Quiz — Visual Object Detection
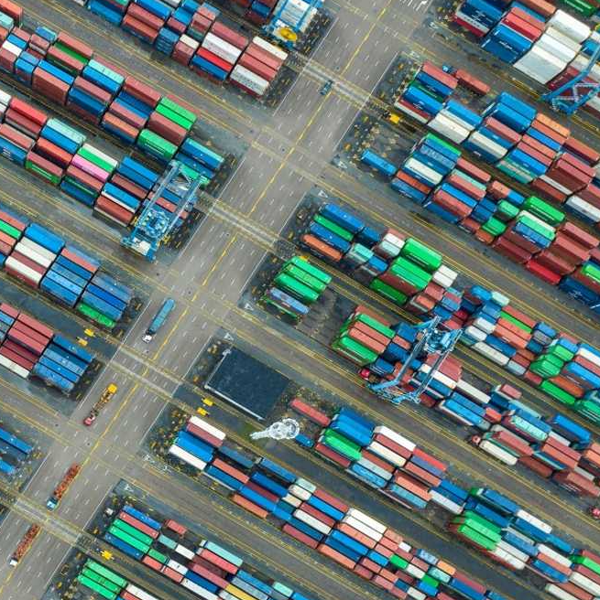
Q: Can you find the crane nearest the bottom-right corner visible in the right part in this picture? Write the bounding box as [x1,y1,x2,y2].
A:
[363,310,467,410]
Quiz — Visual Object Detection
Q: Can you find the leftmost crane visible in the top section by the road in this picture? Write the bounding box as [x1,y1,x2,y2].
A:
[118,156,204,266]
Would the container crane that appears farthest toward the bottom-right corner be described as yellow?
No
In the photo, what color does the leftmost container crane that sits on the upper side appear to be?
blue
